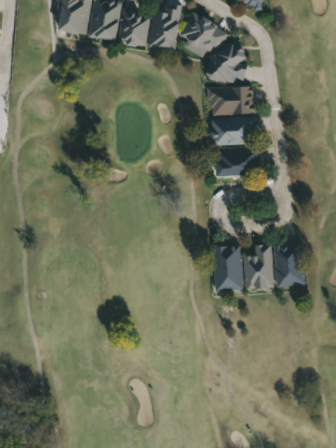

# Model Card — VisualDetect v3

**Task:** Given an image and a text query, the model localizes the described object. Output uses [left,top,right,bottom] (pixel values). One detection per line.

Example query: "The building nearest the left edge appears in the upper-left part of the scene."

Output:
[53,0,90,36]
